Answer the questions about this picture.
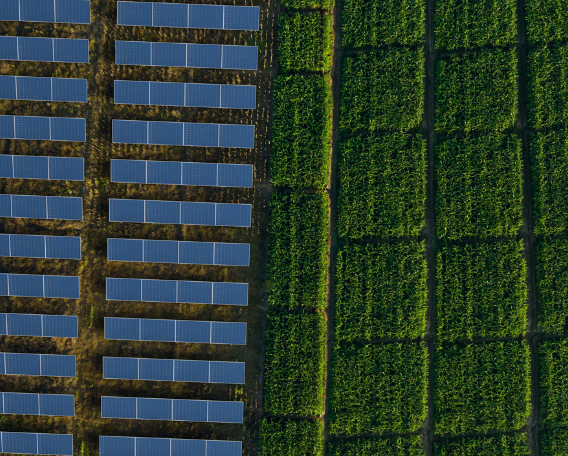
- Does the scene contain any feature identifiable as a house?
No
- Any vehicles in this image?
No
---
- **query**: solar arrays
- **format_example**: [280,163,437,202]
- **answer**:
[102,356,245,384]
[0,36,89,64]
[108,238,250,266]
[0,115,86,142]
[100,436,242,456]
[115,41,258,70]
[0,76,88,103]
[0,353,76,378]
[113,119,255,148]
[106,277,248,306]
[117,1,260,31]
[109,199,251,227]
[0,155,84,181]
[114,80,256,109]
[104,317,246,345]
[111,159,253,188]
[0,234,80,260]
[101,396,243,424]
[0,194,82,221]
[0,432,73,456]
[0,392,75,417]
[0,313,78,339]
[0,0,91,24]
[0,273,79,299]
